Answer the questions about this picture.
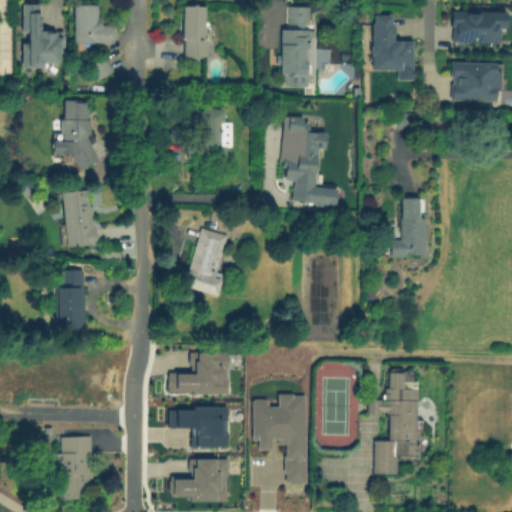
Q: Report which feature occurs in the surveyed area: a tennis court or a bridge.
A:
tennis court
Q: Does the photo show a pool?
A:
Yes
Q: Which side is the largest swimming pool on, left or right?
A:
right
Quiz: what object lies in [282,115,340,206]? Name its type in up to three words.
house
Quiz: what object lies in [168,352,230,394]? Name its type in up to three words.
house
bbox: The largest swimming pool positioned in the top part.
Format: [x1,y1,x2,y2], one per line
[320,69,350,93]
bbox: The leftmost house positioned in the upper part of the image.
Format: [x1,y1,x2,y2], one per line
[24,4,66,68]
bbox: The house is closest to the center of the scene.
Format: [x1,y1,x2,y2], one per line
[189,230,230,296]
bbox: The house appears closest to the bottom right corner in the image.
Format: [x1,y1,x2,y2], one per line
[372,372,421,476]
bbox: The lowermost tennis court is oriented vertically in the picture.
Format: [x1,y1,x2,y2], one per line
[316,362,358,446]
